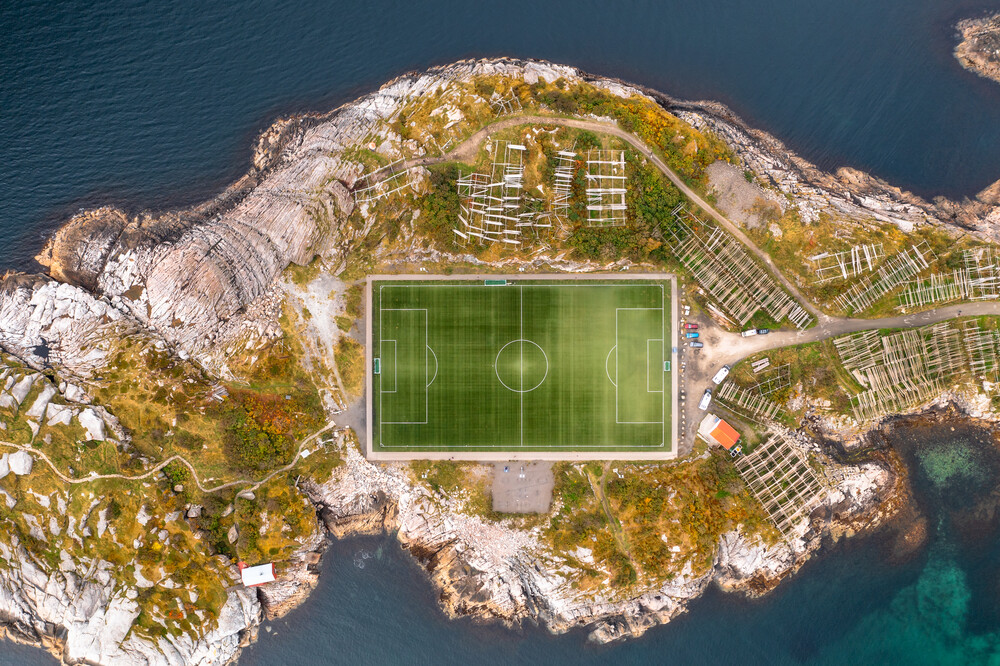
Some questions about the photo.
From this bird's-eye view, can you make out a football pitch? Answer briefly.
Yes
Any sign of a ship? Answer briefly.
No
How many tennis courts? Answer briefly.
zero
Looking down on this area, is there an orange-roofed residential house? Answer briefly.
Yes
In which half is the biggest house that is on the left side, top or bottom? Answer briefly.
bottom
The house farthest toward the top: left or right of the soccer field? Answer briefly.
right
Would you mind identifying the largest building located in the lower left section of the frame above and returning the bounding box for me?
[242,561,279,586]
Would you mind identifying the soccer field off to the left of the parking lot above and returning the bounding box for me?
[368,275,677,460]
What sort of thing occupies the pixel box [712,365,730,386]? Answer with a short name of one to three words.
vehicle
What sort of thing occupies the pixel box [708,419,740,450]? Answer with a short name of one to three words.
house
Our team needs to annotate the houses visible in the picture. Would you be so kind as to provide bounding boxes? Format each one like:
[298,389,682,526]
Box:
[708,419,740,450]
[242,561,279,586]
